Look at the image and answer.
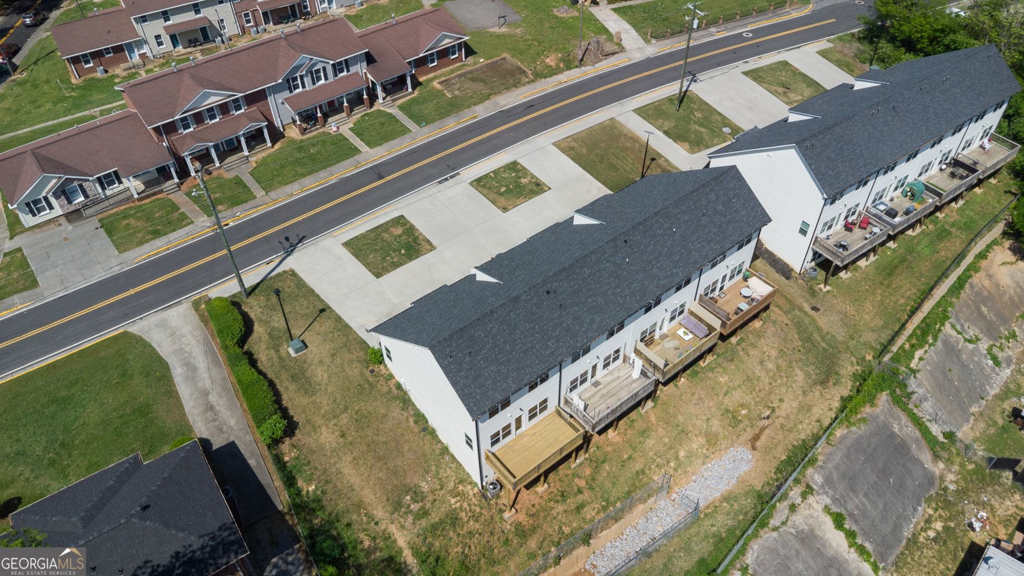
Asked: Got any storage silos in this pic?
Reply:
No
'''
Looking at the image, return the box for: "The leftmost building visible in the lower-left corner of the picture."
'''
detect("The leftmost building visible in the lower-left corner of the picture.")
[0,439,246,576]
